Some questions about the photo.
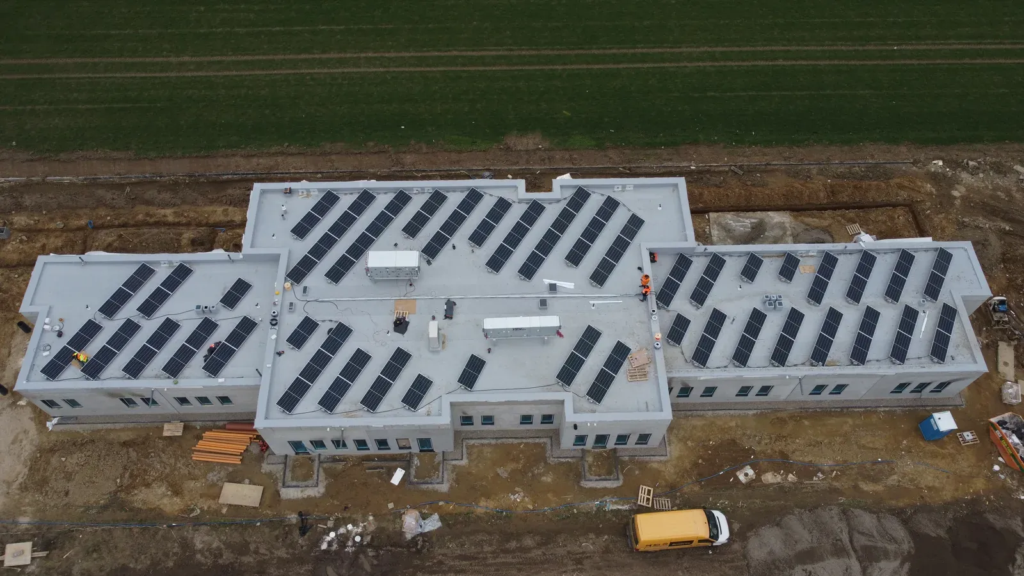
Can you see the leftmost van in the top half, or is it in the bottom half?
bottom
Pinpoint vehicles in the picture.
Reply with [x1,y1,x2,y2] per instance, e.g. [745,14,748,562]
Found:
[991,295,1024,331]
[624,505,728,553]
